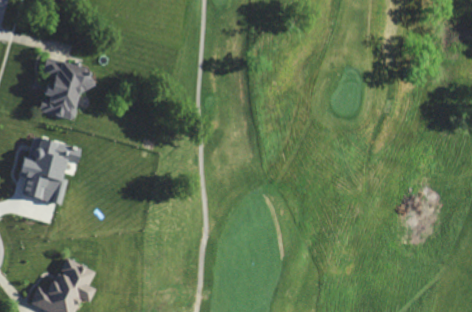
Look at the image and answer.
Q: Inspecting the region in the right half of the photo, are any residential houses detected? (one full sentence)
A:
No, no residential house appears in the right half of the photo.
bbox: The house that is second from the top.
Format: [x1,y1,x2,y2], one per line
[22,138,82,204]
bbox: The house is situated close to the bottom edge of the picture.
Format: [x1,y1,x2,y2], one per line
[34,254,98,312]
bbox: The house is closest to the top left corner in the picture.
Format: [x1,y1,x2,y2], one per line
[38,59,98,120]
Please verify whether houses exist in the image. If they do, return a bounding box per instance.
[38,59,98,120]
[34,254,98,312]
[22,138,82,204]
